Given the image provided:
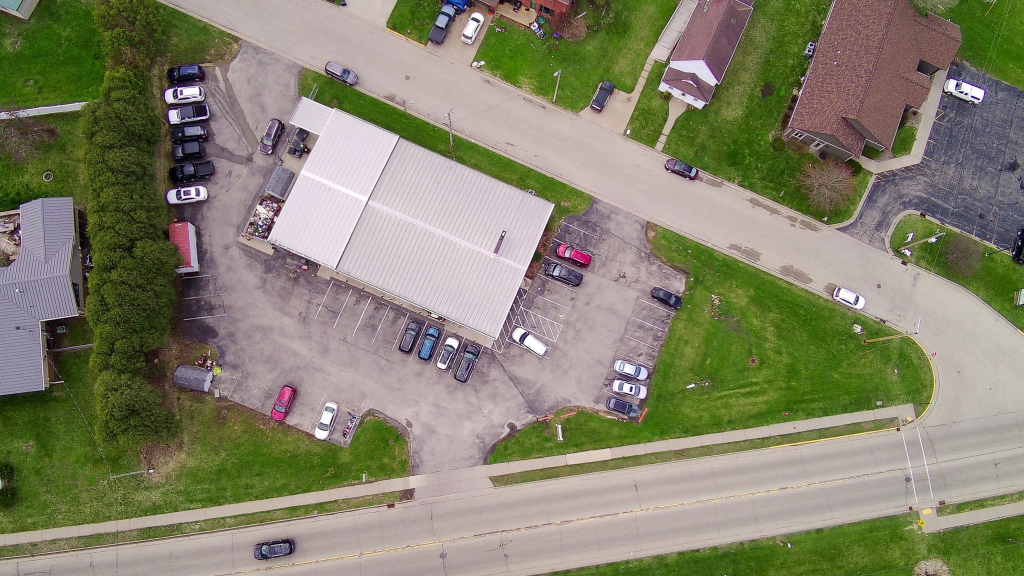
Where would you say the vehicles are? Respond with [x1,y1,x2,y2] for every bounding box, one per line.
[167,187,209,204]
[454,343,480,385]
[399,320,422,354]
[461,12,484,46]
[171,141,207,160]
[163,86,207,104]
[167,65,207,84]
[253,537,298,561]
[830,287,866,310]
[648,284,683,311]
[260,118,284,155]
[167,105,212,124]
[612,361,649,383]
[1008,227,1024,266]
[611,380,648,401]
[315,400,339,441]
[168,162,217,182]
[418,325,441,362]
[171,126,209,144]
[604,397,639,420]
[323,59,360,86]
[436,336,459,373]
[428,4,457,47]
[941,80,990,106]
[543,262,585,289]
[663,158,700,183]
[555,243,593,269]
[589,79,612,115]
[511,328,550,359]
[272,383,296,421]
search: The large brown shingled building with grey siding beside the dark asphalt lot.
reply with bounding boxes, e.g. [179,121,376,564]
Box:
[783,0,960,159]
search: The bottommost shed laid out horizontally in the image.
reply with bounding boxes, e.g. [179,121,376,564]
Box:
[172,365,217,392]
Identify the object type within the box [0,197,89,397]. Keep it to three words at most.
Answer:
house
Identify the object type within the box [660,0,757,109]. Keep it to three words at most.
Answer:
house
